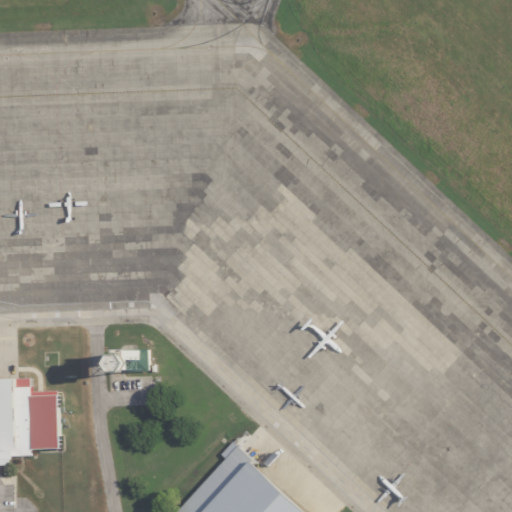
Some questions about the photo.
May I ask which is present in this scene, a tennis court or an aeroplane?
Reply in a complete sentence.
Of the two, only an aeroplane appears.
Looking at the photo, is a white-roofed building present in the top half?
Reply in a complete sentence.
No, in the top half there is no white-roofed building.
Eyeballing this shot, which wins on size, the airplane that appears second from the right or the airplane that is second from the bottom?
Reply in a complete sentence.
It is the airplane that appears second from the right that is larger, not the airplane that is second from the bottom.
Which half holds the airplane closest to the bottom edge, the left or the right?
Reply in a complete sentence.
It is on the right.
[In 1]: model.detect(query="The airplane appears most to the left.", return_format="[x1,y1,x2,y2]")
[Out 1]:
[2,202,36,236]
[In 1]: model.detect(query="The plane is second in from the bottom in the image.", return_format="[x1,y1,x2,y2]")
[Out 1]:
[276,382,304,411]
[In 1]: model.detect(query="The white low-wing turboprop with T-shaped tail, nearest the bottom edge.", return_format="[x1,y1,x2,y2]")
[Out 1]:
[377,474,408,506]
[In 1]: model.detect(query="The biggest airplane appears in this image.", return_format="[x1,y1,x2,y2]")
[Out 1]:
[301,318,344,360]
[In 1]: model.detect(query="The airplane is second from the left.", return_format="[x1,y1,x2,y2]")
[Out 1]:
[48,193,86,223]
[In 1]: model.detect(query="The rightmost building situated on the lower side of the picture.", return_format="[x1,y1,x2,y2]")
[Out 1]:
[180,442,307,512]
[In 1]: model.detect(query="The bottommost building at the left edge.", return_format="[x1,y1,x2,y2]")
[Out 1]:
[0,378,60,466]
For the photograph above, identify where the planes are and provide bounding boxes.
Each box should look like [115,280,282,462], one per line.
[2,202,36,236]
[301,318,344,360]
[377,474,408,506]
[48,193,86,223]
[276,382,304,411]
